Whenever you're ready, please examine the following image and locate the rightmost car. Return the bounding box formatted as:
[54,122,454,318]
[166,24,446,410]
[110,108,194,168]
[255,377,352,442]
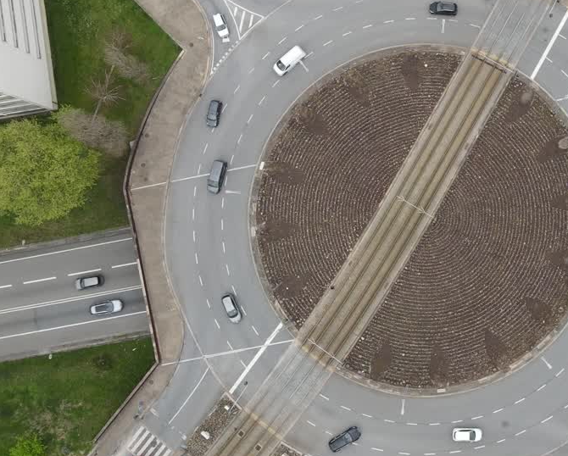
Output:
[452,427,482,442]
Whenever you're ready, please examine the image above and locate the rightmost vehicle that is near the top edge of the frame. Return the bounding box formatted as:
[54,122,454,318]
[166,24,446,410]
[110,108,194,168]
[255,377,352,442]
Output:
[429,0,458,16]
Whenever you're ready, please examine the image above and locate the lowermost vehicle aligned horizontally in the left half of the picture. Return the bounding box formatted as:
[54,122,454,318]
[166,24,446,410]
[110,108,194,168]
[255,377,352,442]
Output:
[91,299,124,315]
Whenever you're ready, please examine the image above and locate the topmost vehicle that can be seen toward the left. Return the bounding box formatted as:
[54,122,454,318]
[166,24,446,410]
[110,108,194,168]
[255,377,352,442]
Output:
[213,13,231,39]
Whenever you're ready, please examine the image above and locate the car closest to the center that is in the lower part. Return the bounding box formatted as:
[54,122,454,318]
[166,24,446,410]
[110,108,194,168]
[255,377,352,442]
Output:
[220,294,243,322]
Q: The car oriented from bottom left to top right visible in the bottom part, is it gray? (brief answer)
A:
Yes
